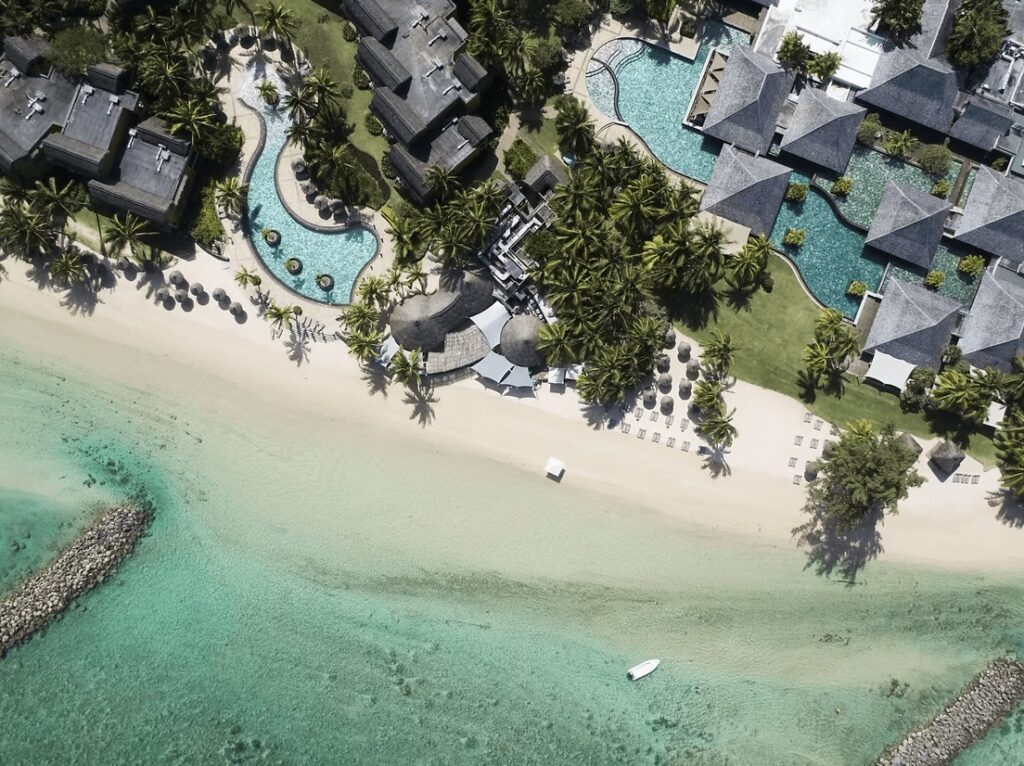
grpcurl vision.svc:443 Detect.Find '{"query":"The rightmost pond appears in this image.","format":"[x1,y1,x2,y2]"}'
[813,140,999,306]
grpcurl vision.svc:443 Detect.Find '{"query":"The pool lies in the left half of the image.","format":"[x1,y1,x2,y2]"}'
[233,57,381,311]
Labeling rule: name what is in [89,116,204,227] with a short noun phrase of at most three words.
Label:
house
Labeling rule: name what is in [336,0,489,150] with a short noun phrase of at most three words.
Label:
building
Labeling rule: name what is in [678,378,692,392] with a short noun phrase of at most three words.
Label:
umbrella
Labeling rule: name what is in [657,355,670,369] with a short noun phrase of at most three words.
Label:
umbrella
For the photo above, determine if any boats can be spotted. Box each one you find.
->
[627,660,659,679]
